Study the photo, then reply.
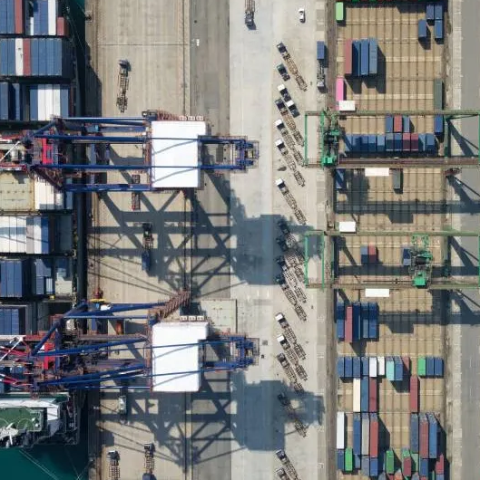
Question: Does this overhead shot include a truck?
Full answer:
Yes, there is a truck in the image.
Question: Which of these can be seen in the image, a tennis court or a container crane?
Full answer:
Looking from above, you can make out a container crane.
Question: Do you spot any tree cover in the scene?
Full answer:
No, there's no tree cover in this view.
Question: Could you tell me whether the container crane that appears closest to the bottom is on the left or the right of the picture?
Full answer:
The container crane that appears closest to the bottom sits on the left side.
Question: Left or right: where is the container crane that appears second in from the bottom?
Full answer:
The container crane that appears second in from the bottom appears in the right half of the scene.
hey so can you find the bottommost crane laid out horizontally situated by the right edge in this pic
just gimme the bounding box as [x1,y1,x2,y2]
[302,219,480,296]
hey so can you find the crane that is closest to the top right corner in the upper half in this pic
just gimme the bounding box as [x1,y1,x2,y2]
[302,99,480,176]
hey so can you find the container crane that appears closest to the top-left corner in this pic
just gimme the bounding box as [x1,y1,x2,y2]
[0,99,269,204]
